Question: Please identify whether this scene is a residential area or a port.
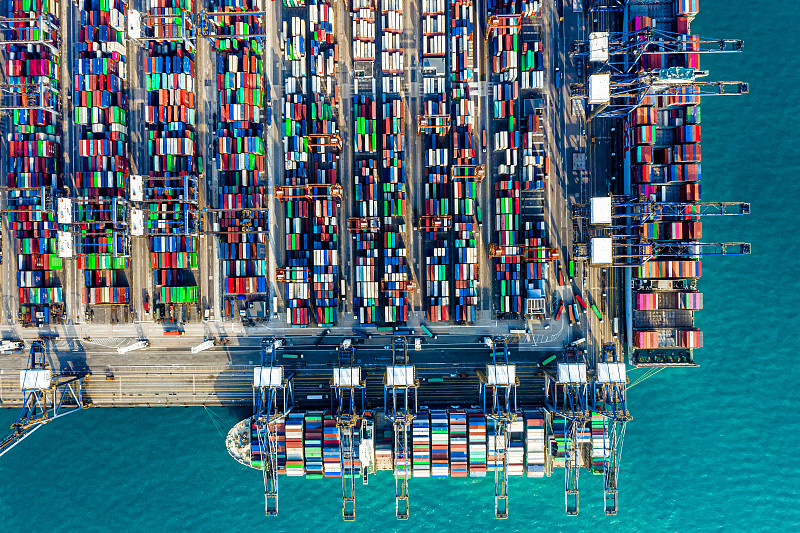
port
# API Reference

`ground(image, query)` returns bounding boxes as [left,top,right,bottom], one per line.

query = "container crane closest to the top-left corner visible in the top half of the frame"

[0,17,65,59]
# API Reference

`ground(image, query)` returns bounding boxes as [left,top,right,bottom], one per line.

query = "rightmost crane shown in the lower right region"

[570,338,633,516]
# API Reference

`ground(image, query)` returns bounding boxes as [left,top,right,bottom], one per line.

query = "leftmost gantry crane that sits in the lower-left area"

[0,345,98,464]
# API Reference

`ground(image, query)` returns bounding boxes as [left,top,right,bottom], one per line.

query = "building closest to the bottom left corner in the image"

[245,302,267,317]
